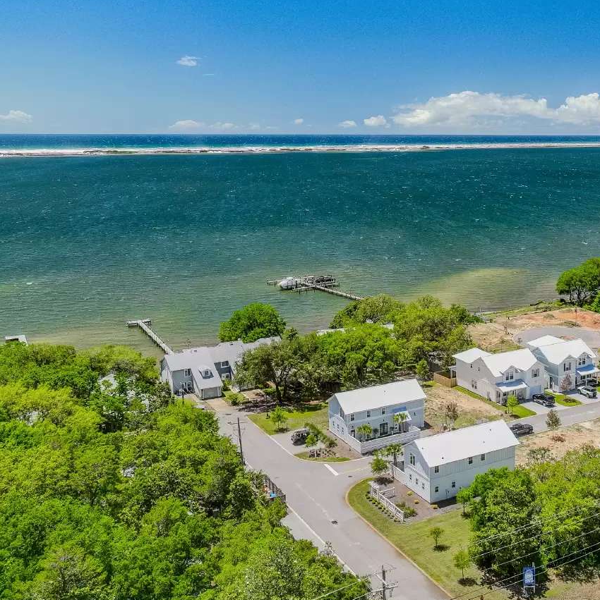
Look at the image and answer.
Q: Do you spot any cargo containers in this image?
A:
No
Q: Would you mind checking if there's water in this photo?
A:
Yes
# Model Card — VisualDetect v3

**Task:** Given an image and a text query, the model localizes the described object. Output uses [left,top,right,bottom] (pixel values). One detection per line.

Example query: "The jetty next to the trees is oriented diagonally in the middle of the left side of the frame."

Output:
[125,317,174,353]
